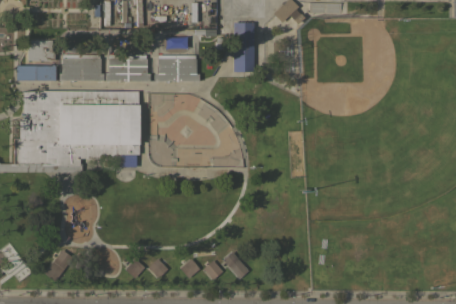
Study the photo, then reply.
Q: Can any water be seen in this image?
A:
No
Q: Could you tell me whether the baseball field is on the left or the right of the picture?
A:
right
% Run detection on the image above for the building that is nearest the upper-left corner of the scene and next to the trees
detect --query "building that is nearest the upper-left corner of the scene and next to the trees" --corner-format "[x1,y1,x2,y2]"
[26,41,54,62]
